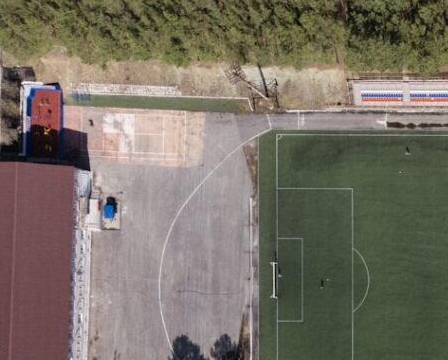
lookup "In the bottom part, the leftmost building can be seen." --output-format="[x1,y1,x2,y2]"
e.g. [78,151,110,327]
[0,160,93,360]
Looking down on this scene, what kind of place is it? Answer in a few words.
sports ground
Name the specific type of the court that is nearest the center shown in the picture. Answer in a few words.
basketball court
